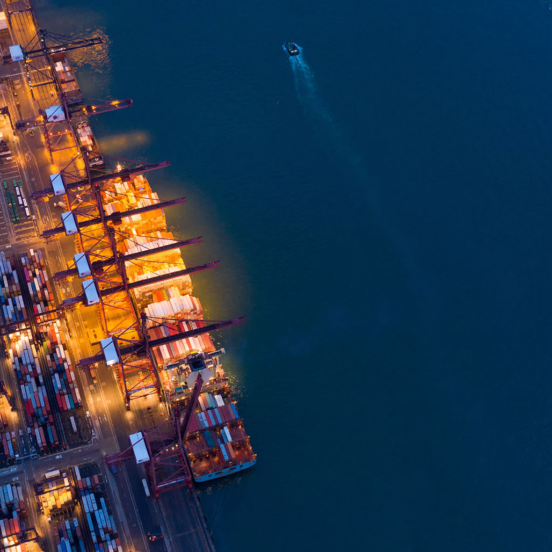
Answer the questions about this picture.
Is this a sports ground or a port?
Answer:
port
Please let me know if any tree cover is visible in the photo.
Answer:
No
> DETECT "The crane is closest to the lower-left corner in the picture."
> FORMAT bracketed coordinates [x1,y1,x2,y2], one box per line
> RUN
[0,526,43,552]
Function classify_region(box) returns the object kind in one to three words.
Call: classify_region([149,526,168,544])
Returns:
work vehicle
